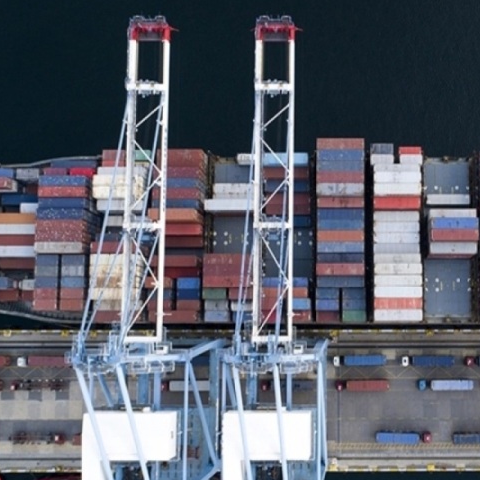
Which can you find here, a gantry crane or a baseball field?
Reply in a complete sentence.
Looking from above, you can make out a gantry crane.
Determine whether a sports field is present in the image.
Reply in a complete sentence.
No, there is no sports field in the image.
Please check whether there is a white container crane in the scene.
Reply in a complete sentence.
Yes, the frame does contain a white container crane.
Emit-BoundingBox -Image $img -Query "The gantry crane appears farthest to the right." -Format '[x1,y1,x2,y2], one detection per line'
[218,14,345,480]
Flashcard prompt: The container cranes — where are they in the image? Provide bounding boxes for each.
[218,14,345,480]
[62,13,237,480]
